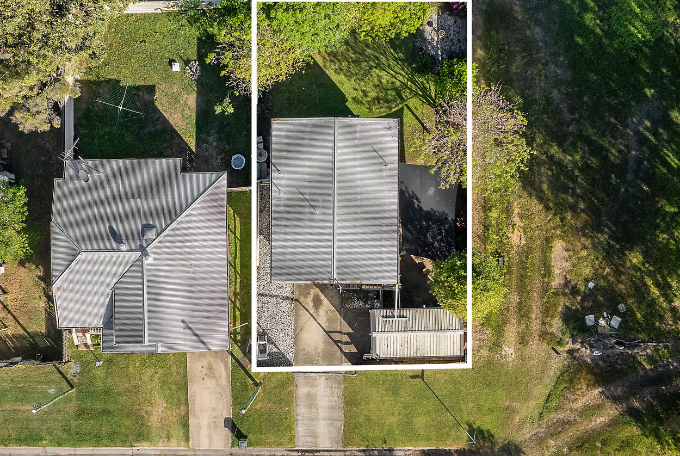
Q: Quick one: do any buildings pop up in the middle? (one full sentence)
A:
Yes, I can see a building in the middle.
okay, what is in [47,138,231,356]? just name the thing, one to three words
house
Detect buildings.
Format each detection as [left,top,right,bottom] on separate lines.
[369,307,466,360]
[47,138,231,356]
[268,116,402,293]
